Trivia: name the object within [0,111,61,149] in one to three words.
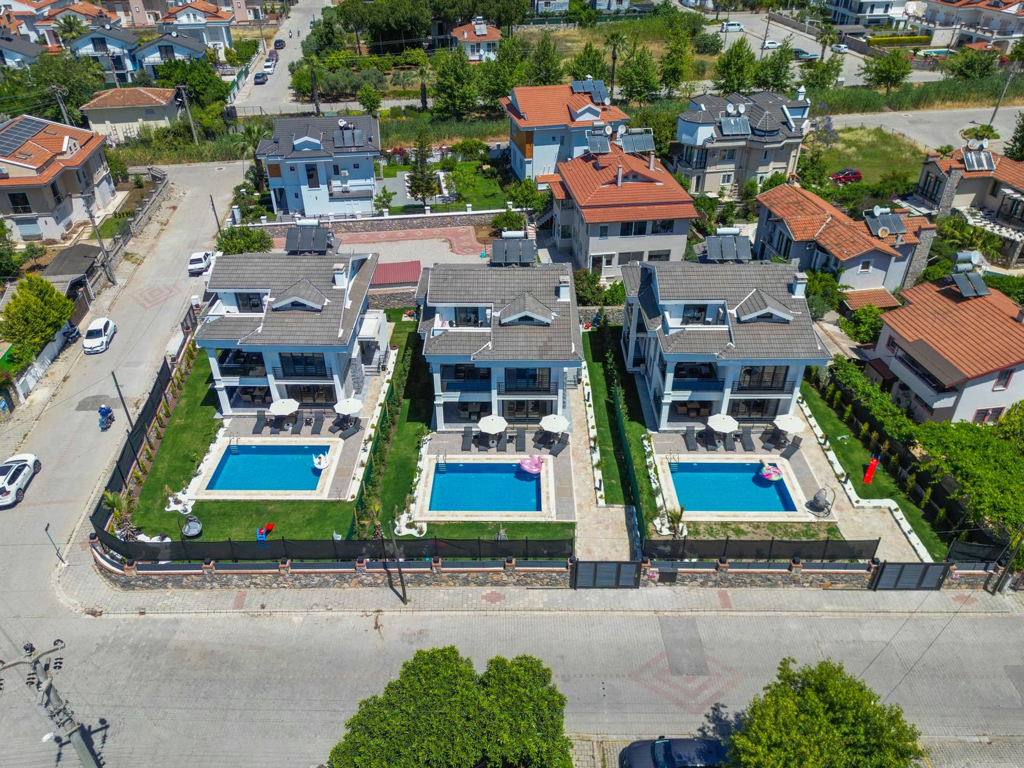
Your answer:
solar array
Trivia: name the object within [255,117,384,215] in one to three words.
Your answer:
house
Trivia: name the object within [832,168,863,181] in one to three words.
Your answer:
vehicle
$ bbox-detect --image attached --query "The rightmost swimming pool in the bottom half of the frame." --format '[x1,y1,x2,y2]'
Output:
[656,448,816,519]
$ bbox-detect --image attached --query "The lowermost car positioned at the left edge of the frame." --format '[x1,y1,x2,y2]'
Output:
[0,455,39,501]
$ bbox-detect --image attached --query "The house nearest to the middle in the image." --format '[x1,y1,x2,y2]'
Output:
[417,261,584,431]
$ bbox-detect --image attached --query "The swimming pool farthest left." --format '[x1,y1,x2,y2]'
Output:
[188,431,345,498]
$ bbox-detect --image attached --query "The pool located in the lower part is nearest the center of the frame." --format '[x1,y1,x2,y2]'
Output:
[414,448,556,519]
